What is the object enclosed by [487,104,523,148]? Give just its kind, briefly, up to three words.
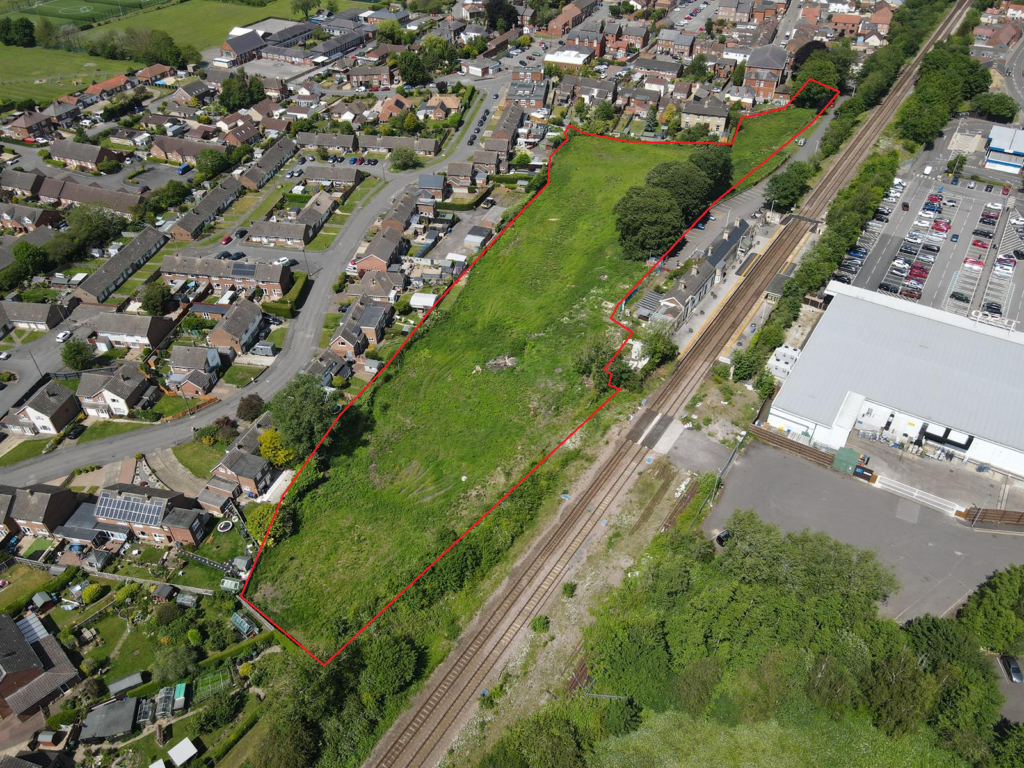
house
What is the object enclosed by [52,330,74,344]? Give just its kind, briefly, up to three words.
car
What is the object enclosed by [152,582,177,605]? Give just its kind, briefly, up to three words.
shed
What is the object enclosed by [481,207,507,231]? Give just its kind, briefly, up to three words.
building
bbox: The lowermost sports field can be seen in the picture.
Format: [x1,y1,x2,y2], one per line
[0,46,153,122]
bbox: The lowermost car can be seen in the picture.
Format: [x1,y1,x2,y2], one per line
[993,653,1024,686]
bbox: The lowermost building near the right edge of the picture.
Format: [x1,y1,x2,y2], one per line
[764,279,1024,488]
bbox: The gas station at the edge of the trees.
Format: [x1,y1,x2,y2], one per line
[985,125,1024,174]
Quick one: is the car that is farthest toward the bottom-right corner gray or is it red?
gray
